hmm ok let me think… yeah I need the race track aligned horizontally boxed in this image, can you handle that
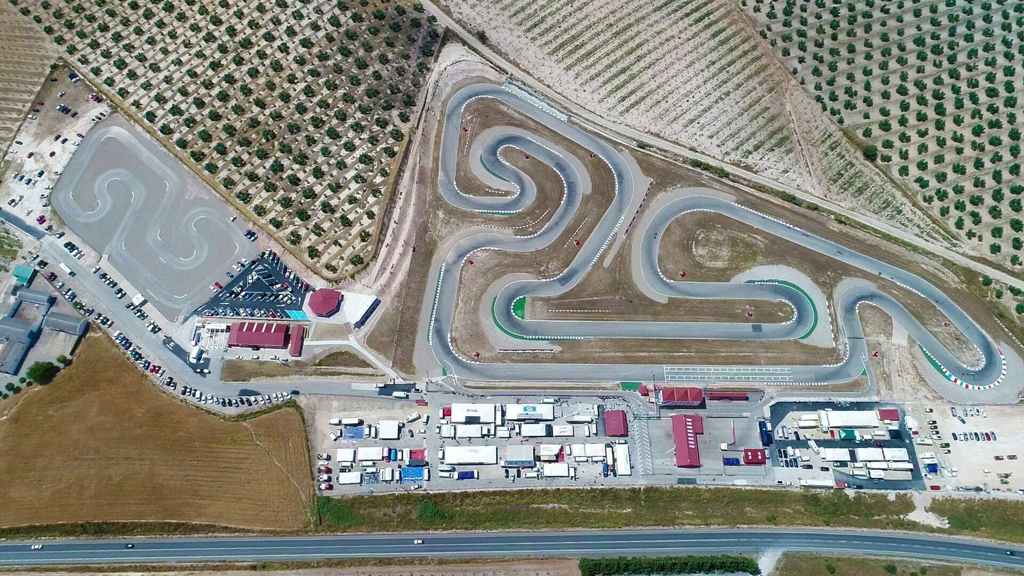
[431,84,1000,386]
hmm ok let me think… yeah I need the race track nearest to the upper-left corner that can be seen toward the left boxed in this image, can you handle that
[55,122,255,308]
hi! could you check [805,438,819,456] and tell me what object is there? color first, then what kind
white camper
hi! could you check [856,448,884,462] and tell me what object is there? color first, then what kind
white tent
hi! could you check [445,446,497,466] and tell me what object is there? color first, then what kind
white tent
